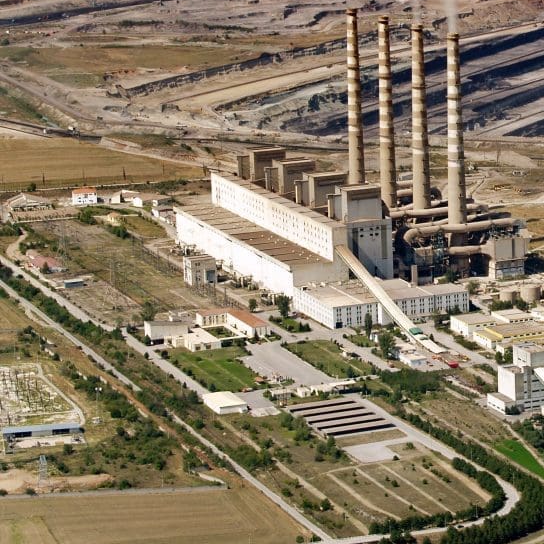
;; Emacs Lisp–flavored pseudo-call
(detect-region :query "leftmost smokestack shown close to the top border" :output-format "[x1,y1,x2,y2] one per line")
[348,11,364,184]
